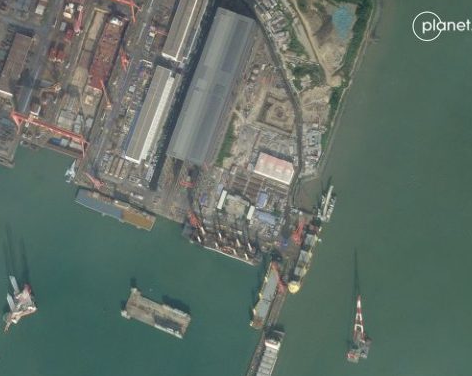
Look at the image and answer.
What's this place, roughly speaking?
port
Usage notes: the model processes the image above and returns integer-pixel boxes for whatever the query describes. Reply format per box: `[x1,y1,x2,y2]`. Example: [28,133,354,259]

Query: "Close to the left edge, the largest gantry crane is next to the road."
[11,113,91,161]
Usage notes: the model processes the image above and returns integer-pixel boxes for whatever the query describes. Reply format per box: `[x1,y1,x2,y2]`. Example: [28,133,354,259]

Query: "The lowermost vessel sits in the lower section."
[253,323,287,376]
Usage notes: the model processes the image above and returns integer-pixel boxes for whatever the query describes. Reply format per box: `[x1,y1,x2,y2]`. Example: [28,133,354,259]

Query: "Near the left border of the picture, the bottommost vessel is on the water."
[2,275,36,332]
